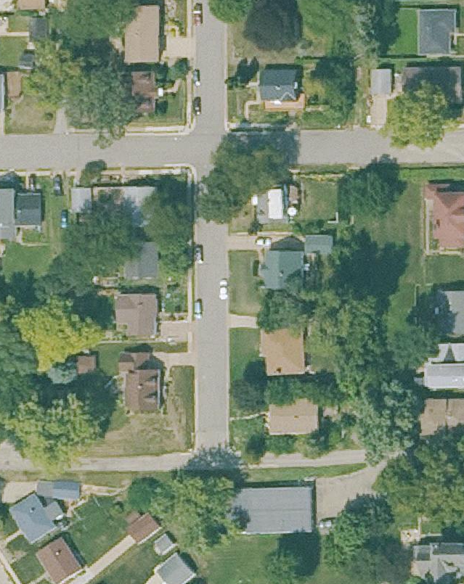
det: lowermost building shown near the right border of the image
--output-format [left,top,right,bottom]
[413,543,464,578]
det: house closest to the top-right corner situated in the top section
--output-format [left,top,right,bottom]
[419,9,456,54]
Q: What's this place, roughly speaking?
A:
residential area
